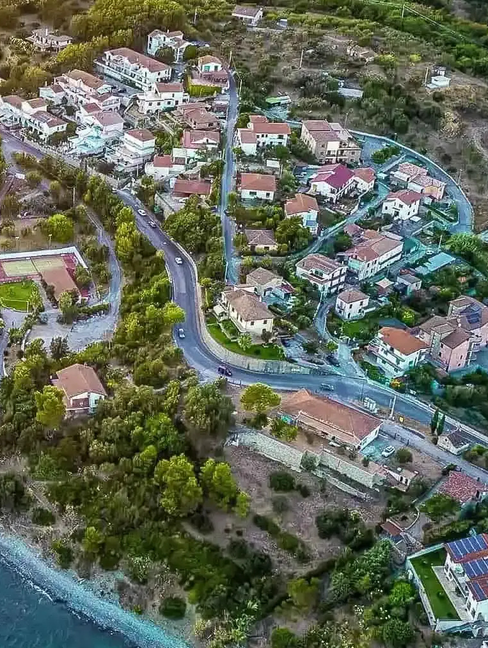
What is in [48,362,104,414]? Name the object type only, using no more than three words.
house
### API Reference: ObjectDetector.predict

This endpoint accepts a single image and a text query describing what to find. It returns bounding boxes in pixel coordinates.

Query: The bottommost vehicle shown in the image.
[382,443,396,456]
